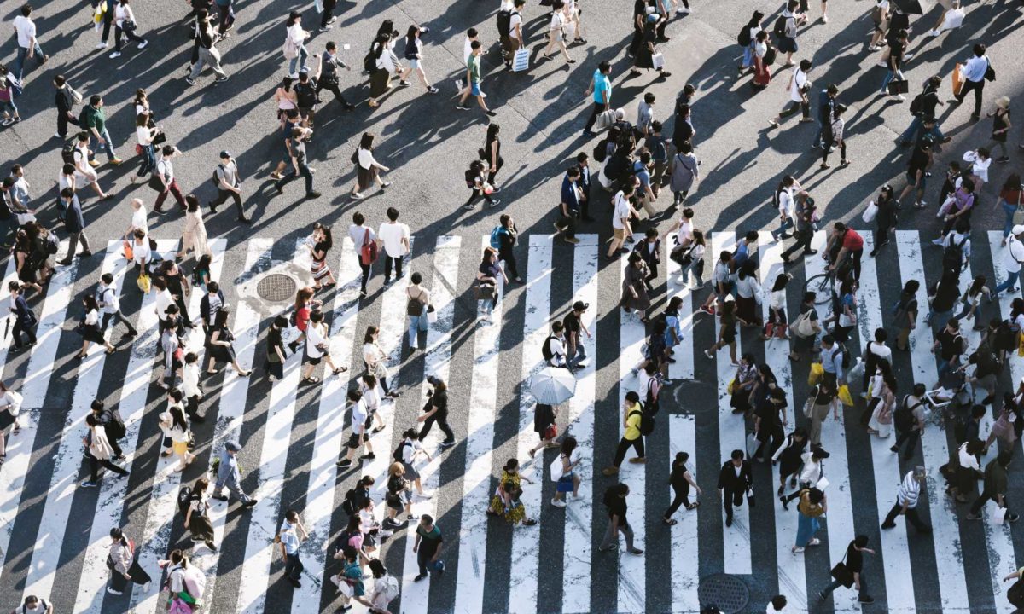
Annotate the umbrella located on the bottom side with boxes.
[524,367,574,405]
